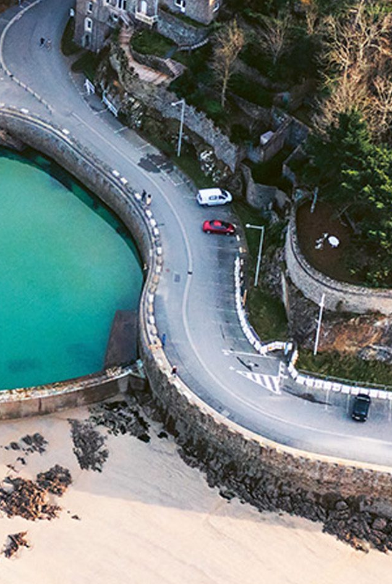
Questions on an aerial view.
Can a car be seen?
Yes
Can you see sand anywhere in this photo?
Yes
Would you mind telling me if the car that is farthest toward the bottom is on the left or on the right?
right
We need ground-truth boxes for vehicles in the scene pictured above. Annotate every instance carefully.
[203,220,236,236]
[198,188,233,207]
[350,394,372,421]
